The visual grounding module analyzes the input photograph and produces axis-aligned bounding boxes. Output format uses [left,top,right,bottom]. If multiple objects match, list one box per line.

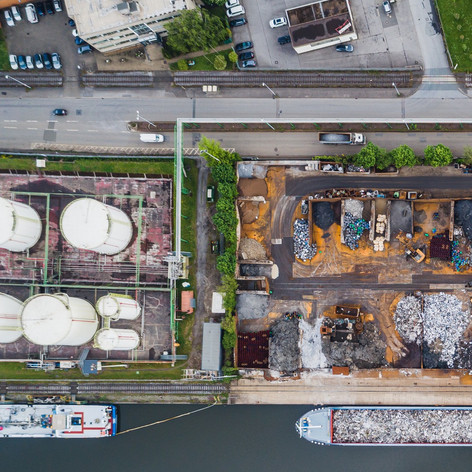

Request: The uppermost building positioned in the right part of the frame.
[285,0,357,53]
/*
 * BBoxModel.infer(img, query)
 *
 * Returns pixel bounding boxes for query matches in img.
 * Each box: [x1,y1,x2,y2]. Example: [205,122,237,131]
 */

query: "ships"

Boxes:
[296,406,472,446]
[0,405,121,438]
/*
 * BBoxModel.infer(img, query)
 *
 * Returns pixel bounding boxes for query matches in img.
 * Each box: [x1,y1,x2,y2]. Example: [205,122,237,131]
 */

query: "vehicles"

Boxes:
[74,36,88,45]
[4,10,16,27]
[77,45,94,54]
[65,18,75,27]
[18,54,28,70]
[241,60,256,67]
[224,0,240,7]
[269,17,286,28]
[11,4,22,22]
[230,17,247,27]
[23,0,37,23]
[9,54,19,69]
[394,230,426,265]
[53,0,63,12]
[24,54,35,70]
[51,107,68,116]
[276,34,291,45]
[383,0,391,15]
[69,28,79,36]
[239,51,254,61]
[139,133,162,141]
[45,0,56,16]
[43,52,53,69]
[317,132,366,144]
[462,281,472,288]
[36,1,47,16]
[227,5,243,16]
[236,40,253,51]
[52,52,62,69]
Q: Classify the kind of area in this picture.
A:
industrial area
